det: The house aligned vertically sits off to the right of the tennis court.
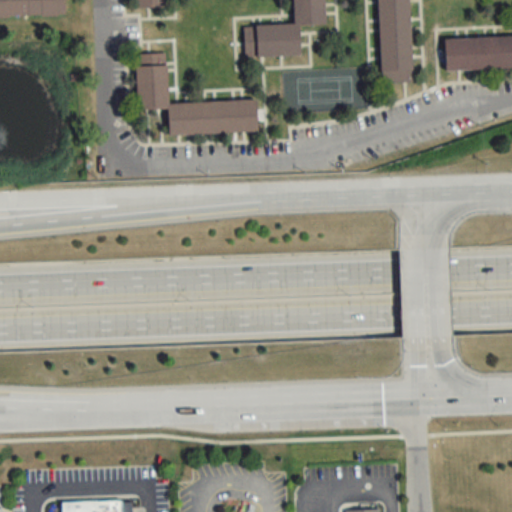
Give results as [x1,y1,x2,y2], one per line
[380,0,414,82]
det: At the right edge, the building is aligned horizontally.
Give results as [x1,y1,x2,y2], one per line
[445,36,512,70]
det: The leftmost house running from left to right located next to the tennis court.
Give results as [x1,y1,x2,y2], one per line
[170,100,258,135]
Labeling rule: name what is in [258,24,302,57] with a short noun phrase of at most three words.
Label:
house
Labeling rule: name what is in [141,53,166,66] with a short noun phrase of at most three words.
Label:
house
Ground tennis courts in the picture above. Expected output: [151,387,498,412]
[283,68,368,113]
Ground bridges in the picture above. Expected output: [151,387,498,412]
[400,246,453,340]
